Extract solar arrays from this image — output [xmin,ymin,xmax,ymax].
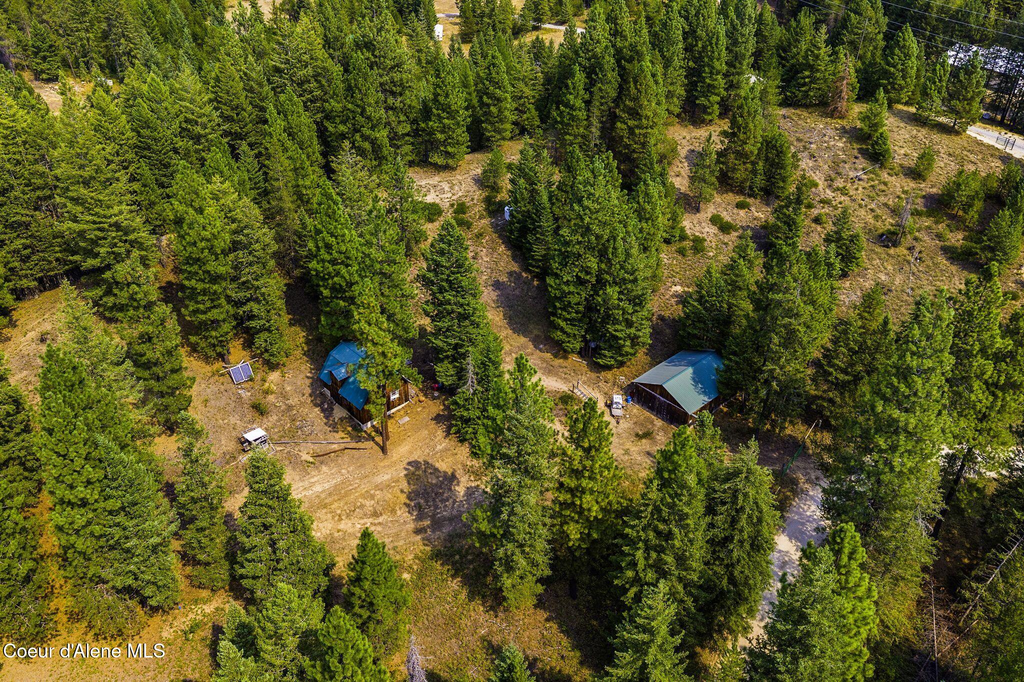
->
[228,363,254,386]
